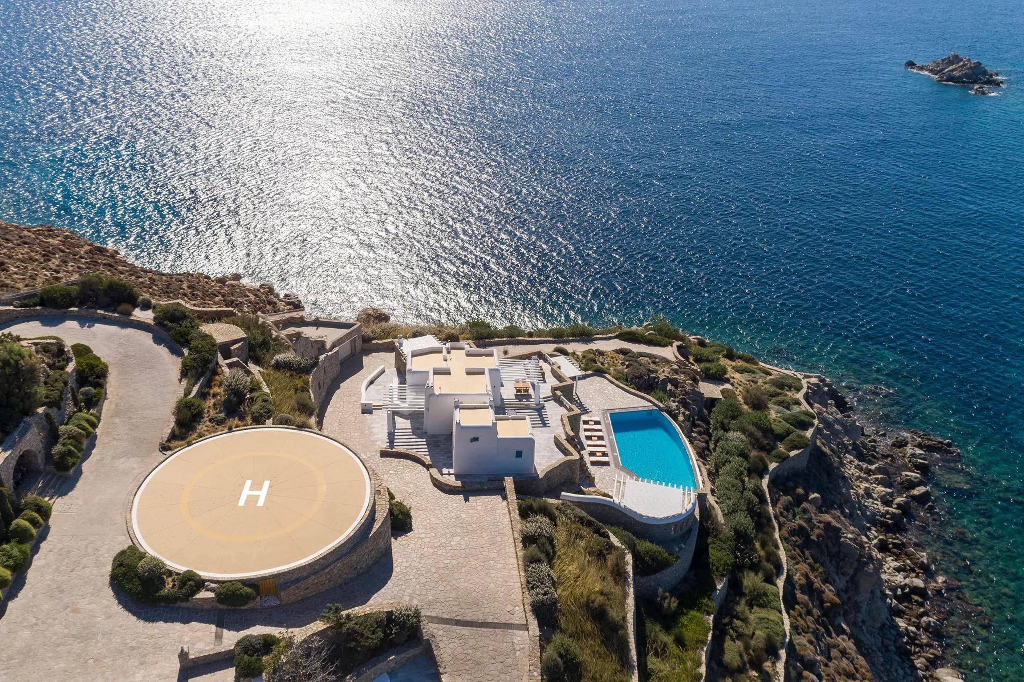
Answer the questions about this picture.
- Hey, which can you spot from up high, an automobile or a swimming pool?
swimming pool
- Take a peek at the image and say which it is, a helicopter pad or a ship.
helicopter pad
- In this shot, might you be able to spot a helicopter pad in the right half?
No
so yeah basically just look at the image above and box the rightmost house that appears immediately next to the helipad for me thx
[405,339,537,475]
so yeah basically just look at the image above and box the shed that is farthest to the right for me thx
[698,382,733,415]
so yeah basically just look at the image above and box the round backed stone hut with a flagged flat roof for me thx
[200,322,247,358]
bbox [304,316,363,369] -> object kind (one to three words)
building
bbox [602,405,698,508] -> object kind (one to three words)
swimming pool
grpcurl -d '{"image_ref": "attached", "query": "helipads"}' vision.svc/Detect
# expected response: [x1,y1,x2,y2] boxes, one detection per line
[123,424,377,603]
